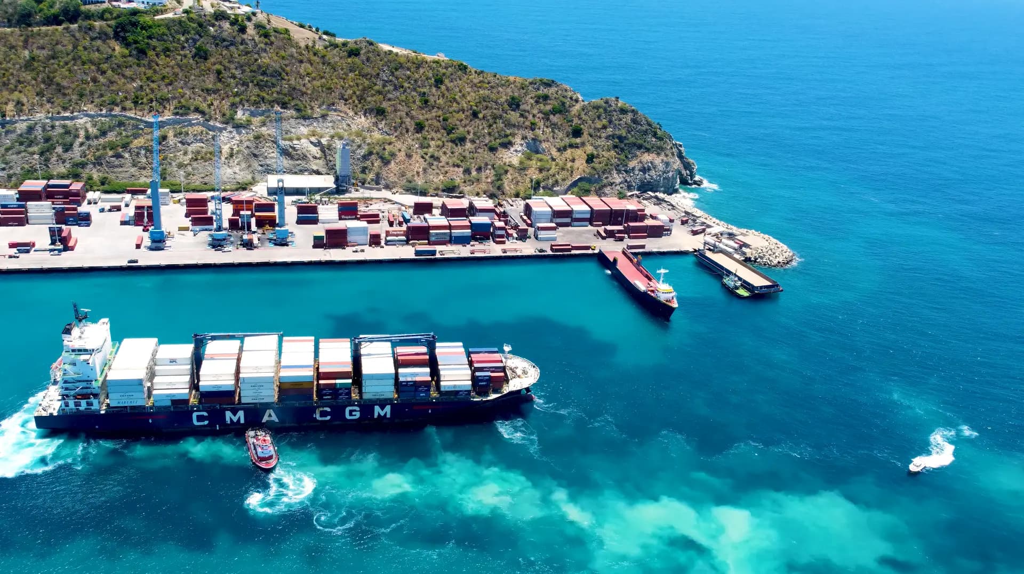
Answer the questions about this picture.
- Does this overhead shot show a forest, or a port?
port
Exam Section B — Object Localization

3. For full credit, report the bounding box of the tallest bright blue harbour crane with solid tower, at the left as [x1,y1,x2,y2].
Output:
[142,108,176,248]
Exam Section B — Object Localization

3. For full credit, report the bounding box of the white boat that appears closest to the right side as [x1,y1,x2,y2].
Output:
[910,458,925,471]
